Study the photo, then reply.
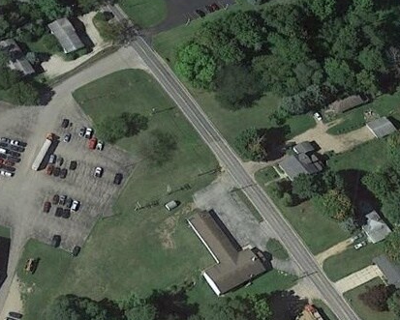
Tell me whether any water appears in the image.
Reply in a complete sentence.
No, water can't be seen anywhere here.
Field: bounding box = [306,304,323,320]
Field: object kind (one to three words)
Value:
vehicle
